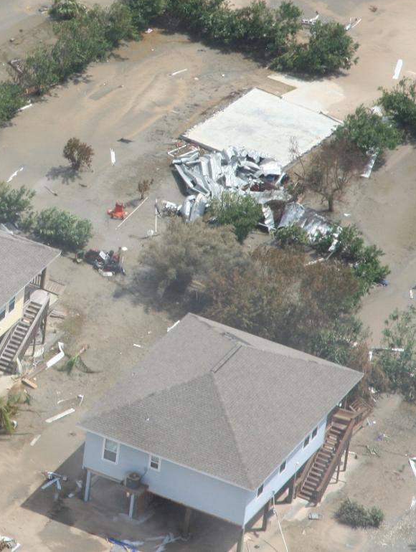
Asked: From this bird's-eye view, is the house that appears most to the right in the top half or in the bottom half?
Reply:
bottom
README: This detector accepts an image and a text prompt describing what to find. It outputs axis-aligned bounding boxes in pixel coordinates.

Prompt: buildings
[75,313,367,552]
[0,231,64,375]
